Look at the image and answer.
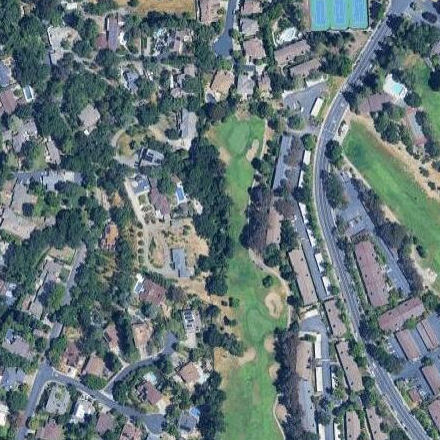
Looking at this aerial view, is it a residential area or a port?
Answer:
residential area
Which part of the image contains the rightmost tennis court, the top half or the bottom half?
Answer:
top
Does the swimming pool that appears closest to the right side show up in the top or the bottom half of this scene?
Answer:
top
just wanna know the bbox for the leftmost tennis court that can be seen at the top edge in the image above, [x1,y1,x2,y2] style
[310,0,329,31]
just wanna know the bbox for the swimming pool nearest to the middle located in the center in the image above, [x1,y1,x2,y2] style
[175,180,187,204]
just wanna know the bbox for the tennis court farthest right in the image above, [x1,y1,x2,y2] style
[348,0,368,28]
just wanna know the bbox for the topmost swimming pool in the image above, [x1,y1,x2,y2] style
[277,27,297,41]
